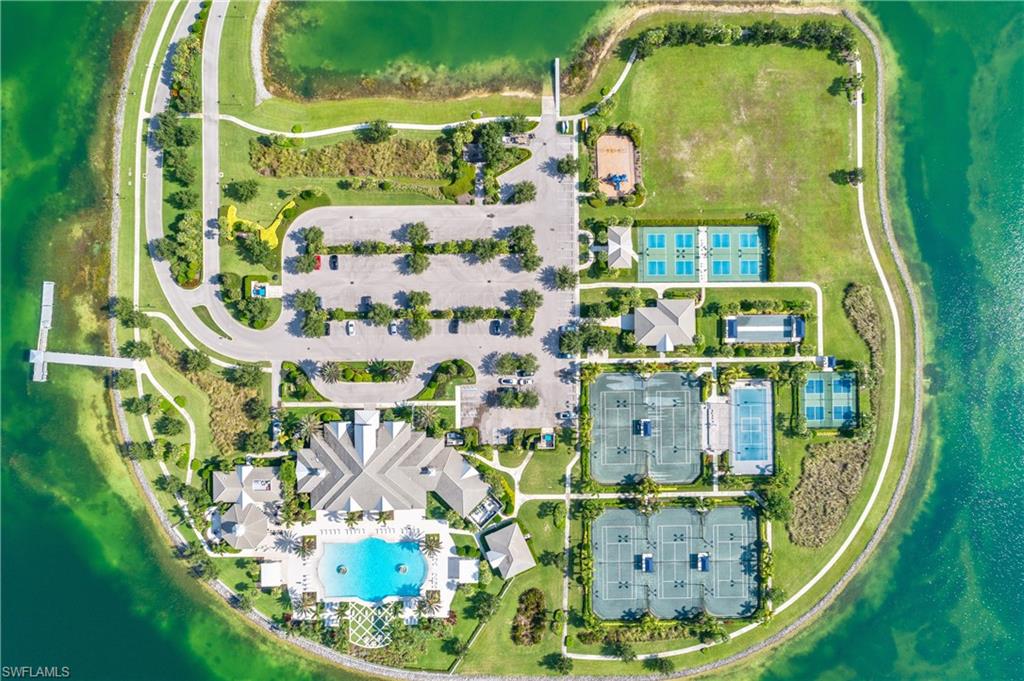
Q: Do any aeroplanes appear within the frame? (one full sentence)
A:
No, the photo shows no aeroplane.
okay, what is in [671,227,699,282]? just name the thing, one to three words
sports court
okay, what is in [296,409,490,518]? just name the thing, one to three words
building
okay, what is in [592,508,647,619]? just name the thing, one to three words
tennis court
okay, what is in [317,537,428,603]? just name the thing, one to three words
swimming pool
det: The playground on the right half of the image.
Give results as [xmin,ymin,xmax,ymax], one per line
[597,135,636,196]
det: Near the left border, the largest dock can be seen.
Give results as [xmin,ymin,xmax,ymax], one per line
[30,282,134,382]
